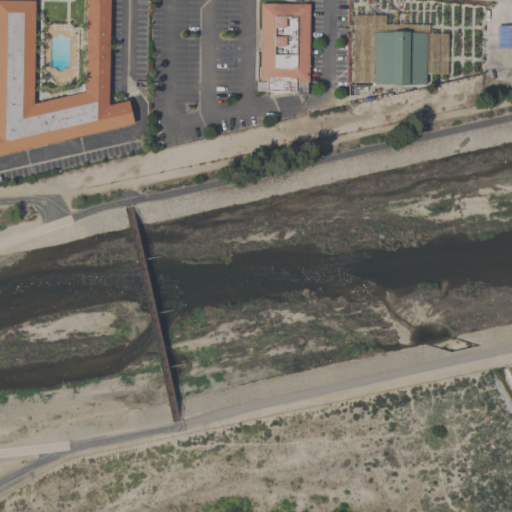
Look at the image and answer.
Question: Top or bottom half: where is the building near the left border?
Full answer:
It is in the top half that the building near the left border appears.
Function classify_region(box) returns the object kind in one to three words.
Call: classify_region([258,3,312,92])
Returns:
building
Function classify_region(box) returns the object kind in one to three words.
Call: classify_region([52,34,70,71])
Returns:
swimming pool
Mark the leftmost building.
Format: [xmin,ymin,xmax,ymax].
[0,0,135,156]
